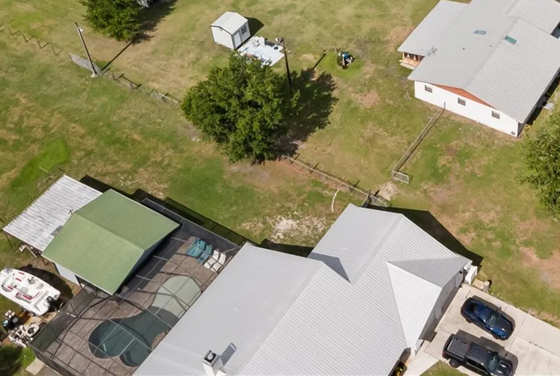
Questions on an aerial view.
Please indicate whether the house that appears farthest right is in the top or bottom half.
top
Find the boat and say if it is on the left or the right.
left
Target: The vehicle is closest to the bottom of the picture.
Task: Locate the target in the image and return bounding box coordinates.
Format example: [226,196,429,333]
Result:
[446,329,517,376]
